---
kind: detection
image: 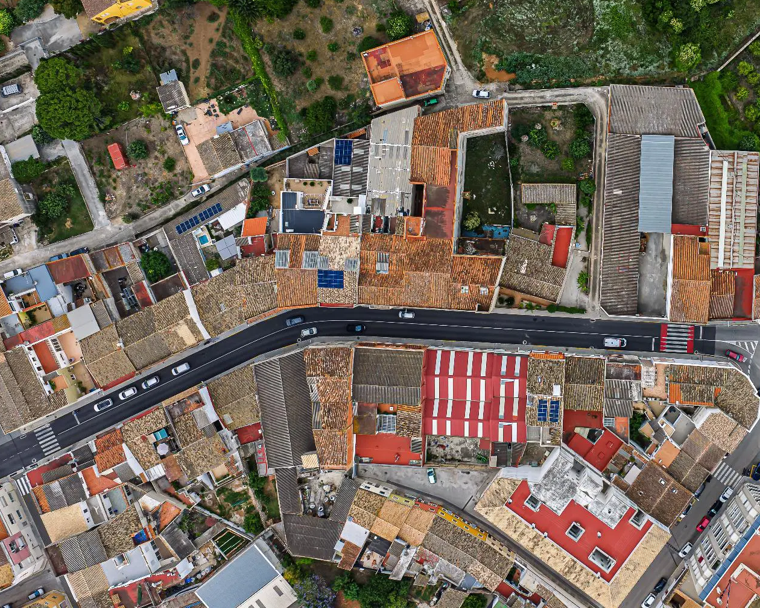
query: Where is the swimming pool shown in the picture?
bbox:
[192,225,215,245]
